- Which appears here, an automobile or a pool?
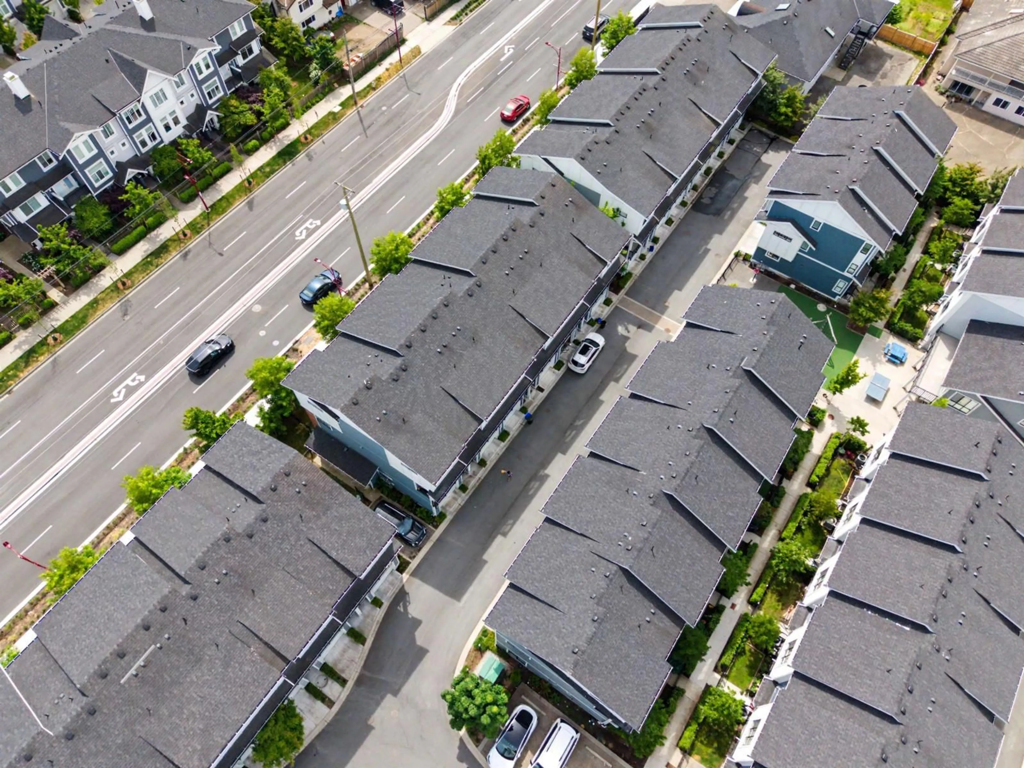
automobile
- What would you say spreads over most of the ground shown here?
buildings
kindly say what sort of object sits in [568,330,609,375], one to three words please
car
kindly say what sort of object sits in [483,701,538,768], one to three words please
car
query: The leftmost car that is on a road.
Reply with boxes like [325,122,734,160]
[183,331,236,377]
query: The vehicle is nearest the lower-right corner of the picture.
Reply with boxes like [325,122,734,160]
[528,718,578,768]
